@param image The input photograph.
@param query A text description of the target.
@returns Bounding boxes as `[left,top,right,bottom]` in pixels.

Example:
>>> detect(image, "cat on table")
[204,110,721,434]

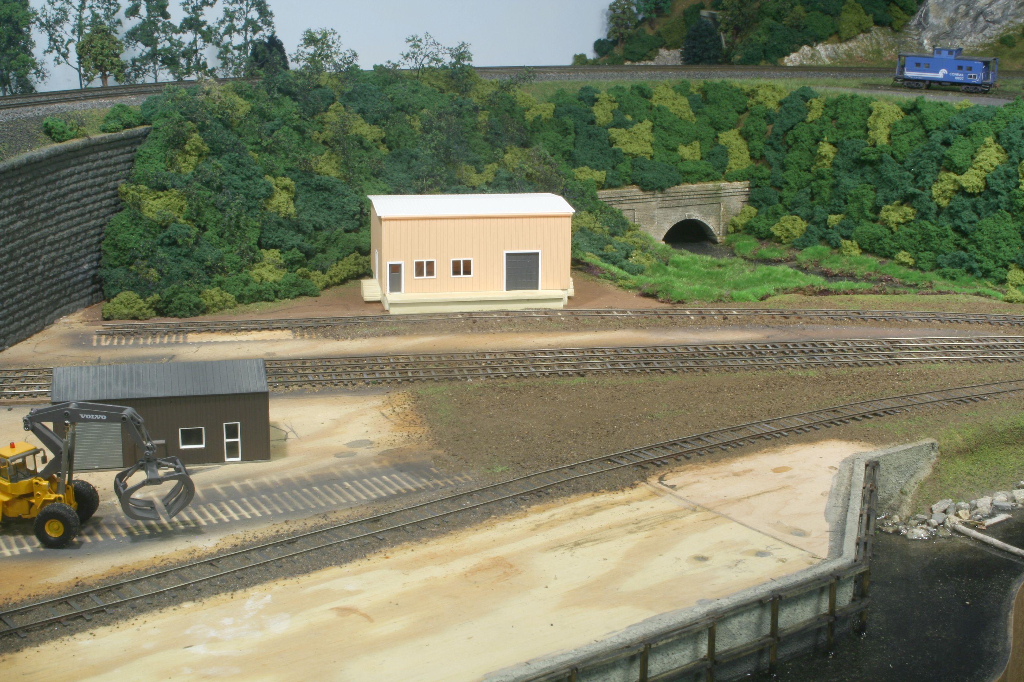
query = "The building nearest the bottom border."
[51,354,272,474]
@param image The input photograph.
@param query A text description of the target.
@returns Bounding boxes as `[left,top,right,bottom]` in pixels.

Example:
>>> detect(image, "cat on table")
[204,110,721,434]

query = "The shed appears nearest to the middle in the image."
[363,192,576,314]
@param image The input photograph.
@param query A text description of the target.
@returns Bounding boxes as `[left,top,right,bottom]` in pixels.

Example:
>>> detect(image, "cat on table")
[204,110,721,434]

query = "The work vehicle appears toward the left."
[0,401,195,548]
